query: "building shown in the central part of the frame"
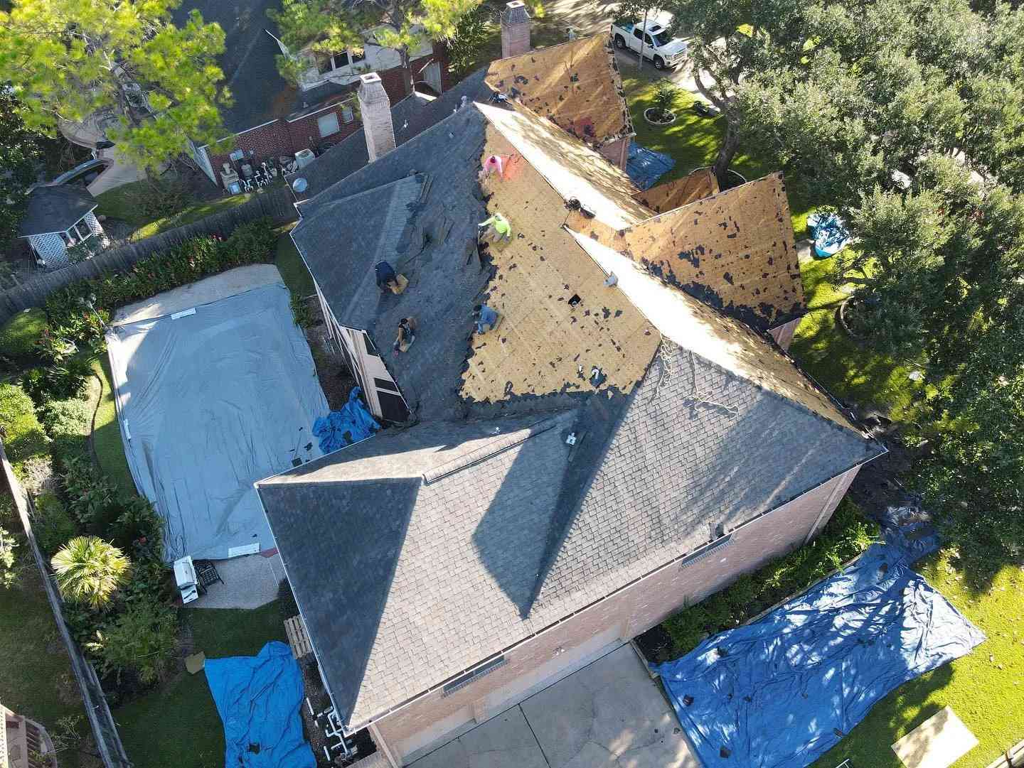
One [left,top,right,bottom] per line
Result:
[247,6,894,768]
